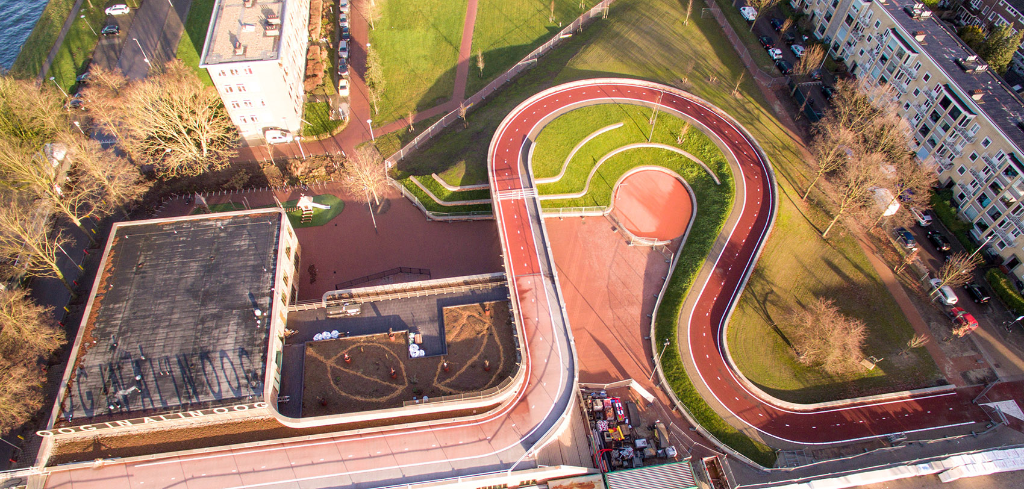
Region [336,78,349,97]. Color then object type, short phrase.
white vehicle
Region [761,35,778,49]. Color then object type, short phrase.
black car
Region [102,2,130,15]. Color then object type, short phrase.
white vehicle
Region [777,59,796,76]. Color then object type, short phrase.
black car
